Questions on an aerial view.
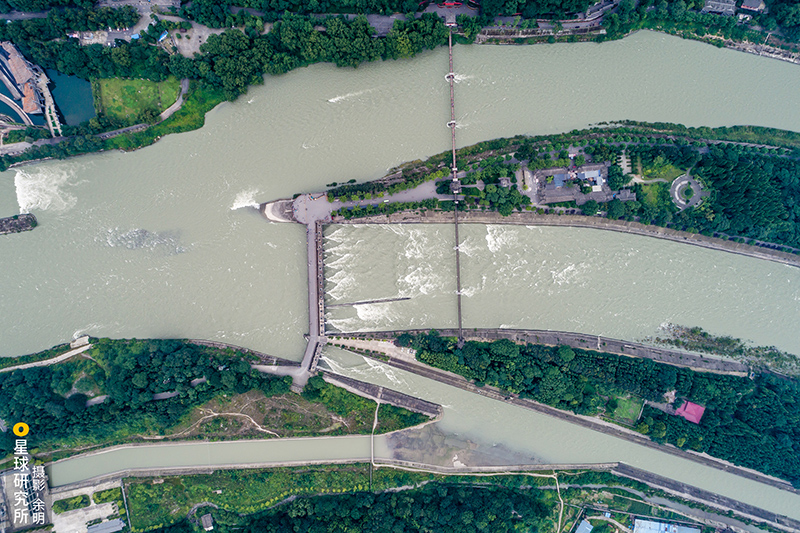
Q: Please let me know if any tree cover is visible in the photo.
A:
Yes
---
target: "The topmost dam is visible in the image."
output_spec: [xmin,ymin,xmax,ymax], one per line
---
[308,219,328,337]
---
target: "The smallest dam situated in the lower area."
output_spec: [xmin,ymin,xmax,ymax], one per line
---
[298,334,327,373]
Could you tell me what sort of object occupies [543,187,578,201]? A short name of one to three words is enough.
building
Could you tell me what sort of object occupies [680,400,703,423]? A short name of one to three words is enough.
house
